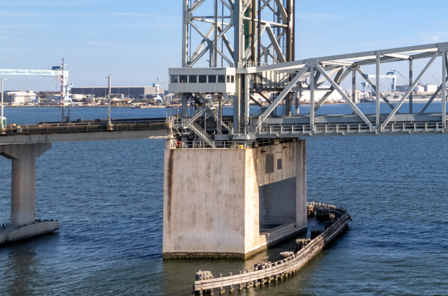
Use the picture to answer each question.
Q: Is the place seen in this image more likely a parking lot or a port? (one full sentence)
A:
It's a port.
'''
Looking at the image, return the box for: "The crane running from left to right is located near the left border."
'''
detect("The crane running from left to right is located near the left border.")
[0,67,69,94]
